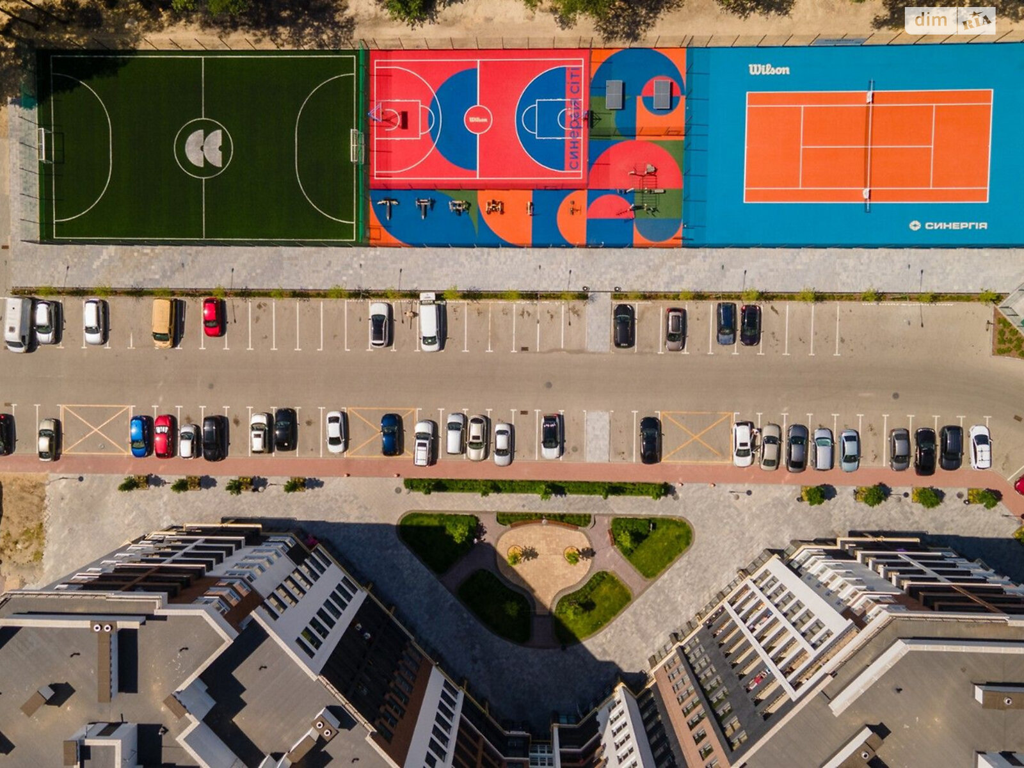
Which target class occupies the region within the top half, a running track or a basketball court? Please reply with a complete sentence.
There is a basketball court within the top half.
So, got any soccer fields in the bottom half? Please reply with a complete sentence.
No, no soccer field can be made out in the bottom half.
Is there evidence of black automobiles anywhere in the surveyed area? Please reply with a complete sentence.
Yes, looking at the shot, I can spot a black automobile.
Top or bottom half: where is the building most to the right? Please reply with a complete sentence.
It is in the bottom half that the building most to the right appears.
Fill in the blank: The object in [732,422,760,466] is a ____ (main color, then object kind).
white car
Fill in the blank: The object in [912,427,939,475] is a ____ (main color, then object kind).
black car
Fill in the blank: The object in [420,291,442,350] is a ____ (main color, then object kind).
white vehicle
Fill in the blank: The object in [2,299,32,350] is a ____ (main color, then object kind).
white vehicle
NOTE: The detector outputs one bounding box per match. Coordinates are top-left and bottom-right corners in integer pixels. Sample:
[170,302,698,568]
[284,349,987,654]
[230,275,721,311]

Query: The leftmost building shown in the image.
[0,518,552,768]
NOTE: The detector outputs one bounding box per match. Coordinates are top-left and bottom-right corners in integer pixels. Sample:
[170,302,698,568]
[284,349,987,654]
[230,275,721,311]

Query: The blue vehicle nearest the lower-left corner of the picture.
[129,415,151,456]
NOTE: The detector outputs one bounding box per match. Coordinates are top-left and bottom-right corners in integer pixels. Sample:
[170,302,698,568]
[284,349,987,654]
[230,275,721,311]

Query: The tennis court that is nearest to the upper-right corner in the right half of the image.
[684,42,1024,248]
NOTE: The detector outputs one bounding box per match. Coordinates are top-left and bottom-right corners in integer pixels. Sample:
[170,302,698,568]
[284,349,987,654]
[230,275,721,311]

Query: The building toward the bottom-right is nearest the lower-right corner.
[549,532,1024,768]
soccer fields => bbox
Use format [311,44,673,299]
[40,49,369,246]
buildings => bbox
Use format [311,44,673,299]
[0,518,552,768]
[549,532,1024,768]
